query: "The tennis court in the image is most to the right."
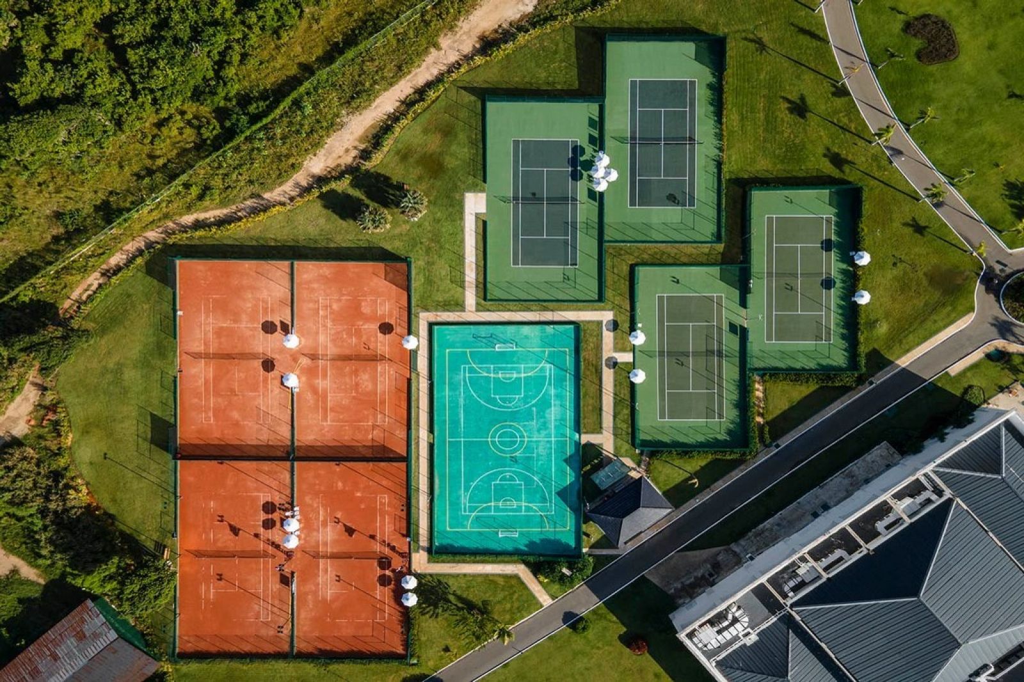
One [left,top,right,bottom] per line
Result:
[751,190,858,371]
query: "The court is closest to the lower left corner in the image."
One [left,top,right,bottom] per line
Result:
[178,462,293,657]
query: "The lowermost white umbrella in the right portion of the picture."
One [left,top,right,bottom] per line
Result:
[628,368,645,383]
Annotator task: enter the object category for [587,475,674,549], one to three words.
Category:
building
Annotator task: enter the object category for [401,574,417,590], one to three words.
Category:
umbrella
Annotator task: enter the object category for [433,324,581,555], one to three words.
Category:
sports court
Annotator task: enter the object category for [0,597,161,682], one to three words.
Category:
shed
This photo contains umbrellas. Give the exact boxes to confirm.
[402,592,417,607]
[594,151,610,166]
[401,574,417,590]
[283,373,299,387]
[402,335,418,350]
[592,178,608,192]
[628,368,645,383]
[283,517,299,532]
[283,334,299,348]
[854,290,870,304]
[283,534,299,549]
[603,167,619,182]
[853,251,869,266]
[629,330,645,344]
[590,165,606,179]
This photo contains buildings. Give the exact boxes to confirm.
[668,408,1024,682]
[0,597,161,682]
[587,475,674,549]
